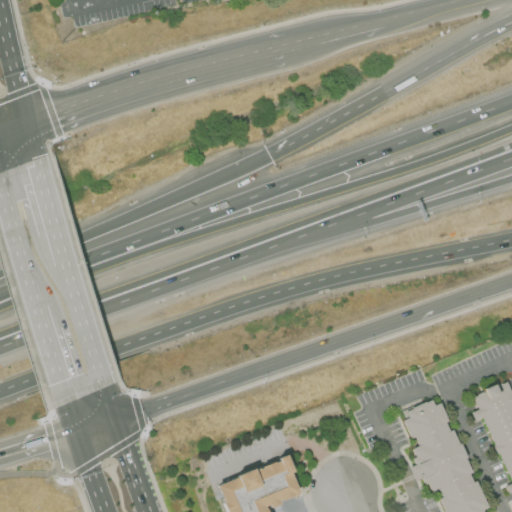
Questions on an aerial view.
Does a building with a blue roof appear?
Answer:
No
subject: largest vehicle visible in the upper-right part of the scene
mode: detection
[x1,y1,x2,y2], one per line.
[390,76,418,94]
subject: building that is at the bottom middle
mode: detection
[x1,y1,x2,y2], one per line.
[220,454,305,512]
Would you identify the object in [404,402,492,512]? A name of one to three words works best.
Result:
building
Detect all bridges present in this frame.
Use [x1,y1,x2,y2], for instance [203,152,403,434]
[0,150,122,412]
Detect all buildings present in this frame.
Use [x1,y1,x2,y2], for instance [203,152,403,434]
[404,402,492,512]
[474,382,512,511]
[220,454,305,512]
